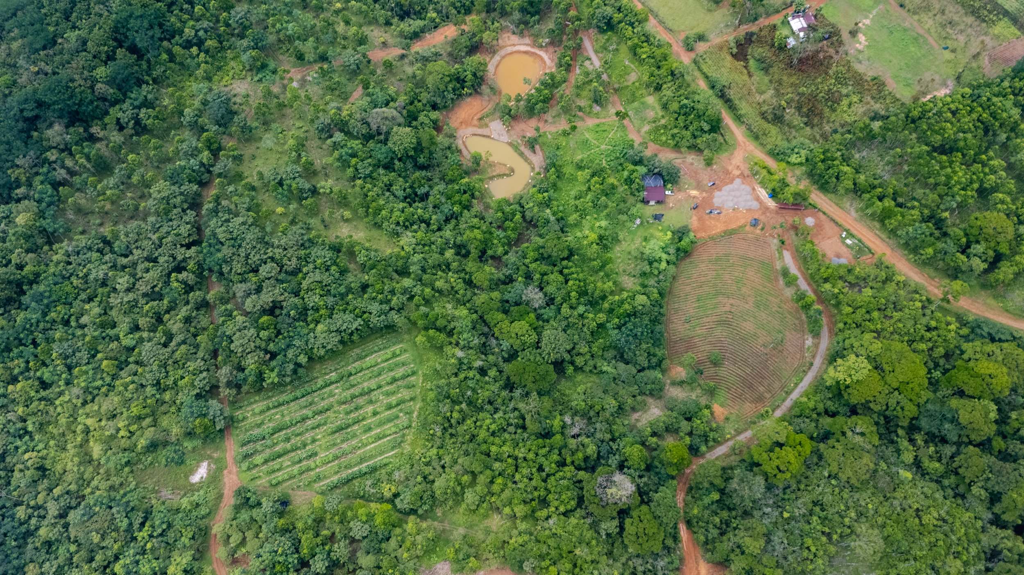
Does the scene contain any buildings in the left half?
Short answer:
No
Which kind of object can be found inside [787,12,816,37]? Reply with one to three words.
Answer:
house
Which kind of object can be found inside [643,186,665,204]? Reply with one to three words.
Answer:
house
